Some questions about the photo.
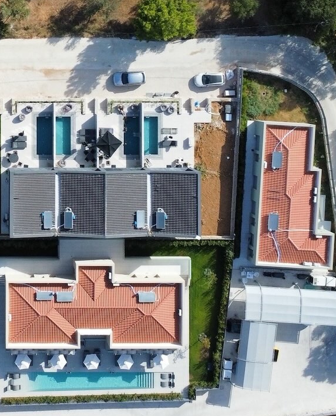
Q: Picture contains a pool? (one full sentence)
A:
Yes, the image includes a pool.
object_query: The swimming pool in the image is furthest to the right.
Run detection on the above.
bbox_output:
[143,113,162,158]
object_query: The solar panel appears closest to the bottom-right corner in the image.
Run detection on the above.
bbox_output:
[268,211,284,262]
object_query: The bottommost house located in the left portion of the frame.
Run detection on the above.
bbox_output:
[2,257,183,347]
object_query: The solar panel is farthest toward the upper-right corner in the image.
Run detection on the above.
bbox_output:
[272,127,297,172]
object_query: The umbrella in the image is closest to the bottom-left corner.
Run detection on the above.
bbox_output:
[14,353,31,369]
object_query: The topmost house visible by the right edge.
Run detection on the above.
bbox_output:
[244,120,333,268]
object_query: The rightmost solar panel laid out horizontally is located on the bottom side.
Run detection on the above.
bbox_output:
[119,283,173,303]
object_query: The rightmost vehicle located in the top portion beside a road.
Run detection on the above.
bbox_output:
[195,72,228,89]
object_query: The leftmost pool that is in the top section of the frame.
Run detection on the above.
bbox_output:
[32,113,58,160]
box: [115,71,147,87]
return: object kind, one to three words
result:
car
